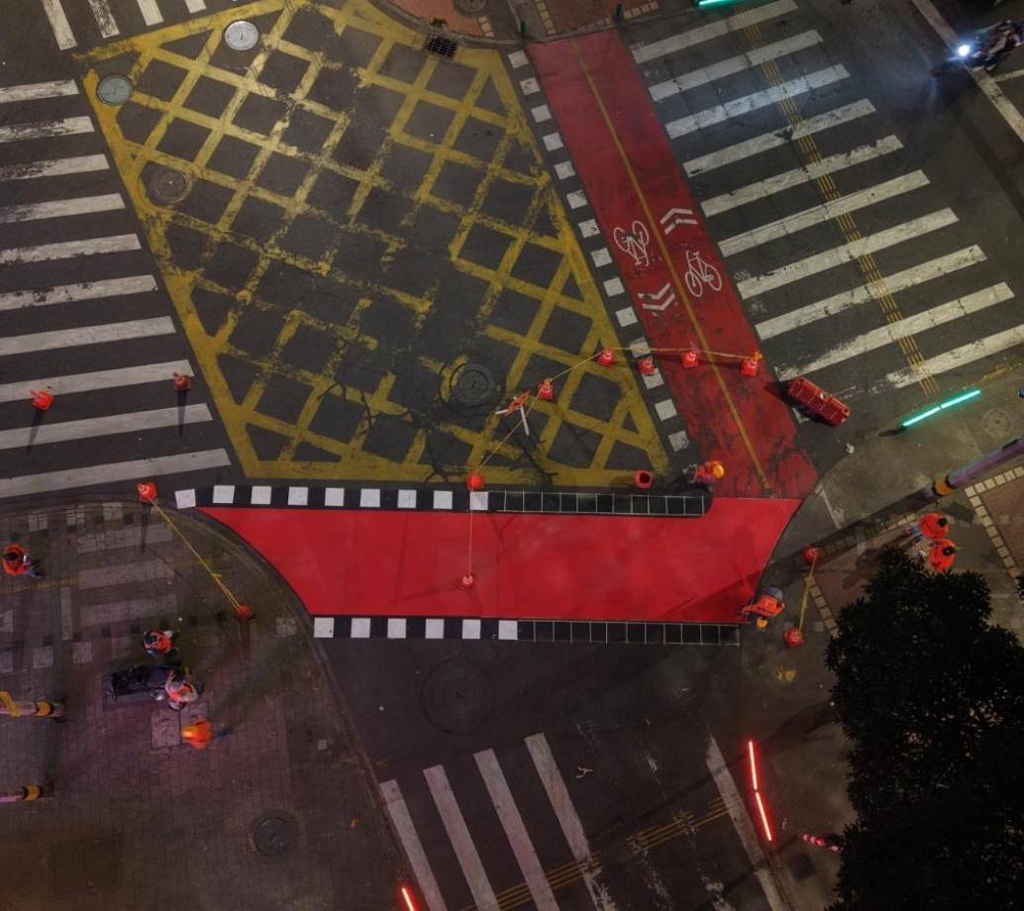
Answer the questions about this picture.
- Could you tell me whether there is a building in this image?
No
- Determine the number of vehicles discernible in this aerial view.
2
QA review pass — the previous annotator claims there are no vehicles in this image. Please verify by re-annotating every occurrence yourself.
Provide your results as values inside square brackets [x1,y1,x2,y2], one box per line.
[945,22,1018,77]
[108,651,195,718]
